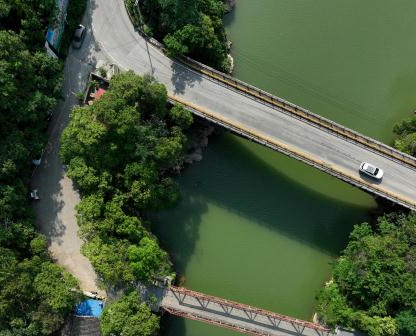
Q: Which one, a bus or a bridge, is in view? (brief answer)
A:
bridge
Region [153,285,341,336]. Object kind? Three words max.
bridge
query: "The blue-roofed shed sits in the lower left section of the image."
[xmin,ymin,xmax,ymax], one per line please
[74,298,105,317]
